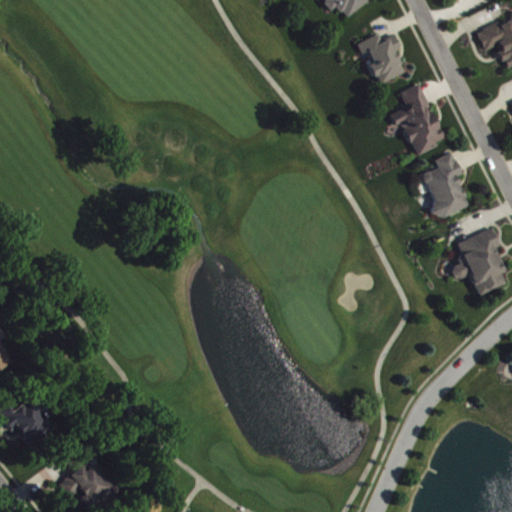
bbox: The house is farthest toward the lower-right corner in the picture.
[458,226,511,290]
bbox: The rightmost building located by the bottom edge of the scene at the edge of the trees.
[69,466,114,501]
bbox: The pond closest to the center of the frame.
[189,250,364,472]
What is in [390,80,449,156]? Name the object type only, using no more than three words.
house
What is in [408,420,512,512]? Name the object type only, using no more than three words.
pond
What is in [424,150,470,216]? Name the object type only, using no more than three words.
house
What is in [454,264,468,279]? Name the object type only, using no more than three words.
gazebo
